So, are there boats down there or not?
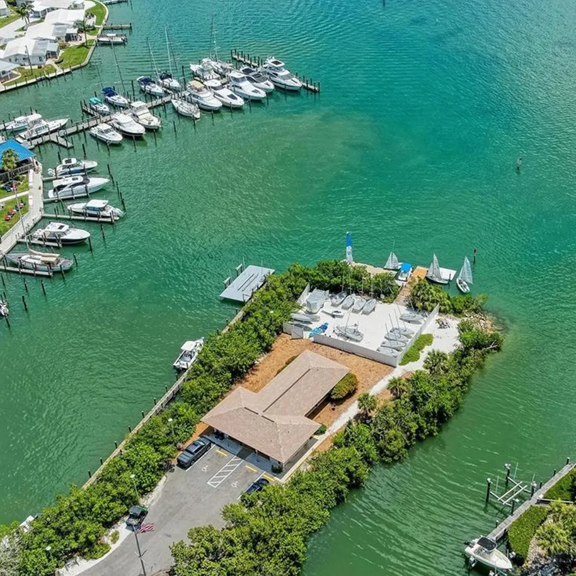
Yes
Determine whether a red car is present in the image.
No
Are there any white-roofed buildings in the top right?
No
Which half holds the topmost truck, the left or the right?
left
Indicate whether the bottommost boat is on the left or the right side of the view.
right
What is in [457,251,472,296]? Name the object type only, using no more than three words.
boat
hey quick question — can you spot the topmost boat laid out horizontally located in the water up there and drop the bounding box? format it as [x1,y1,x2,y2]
[97,31,131,44]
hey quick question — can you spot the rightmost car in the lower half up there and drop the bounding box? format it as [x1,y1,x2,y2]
[238,471,279,503]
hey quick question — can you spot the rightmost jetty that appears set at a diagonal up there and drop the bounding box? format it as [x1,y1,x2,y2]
[480,452,576,544]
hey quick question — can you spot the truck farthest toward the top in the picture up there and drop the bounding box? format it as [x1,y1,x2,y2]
[171,435,215,467]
